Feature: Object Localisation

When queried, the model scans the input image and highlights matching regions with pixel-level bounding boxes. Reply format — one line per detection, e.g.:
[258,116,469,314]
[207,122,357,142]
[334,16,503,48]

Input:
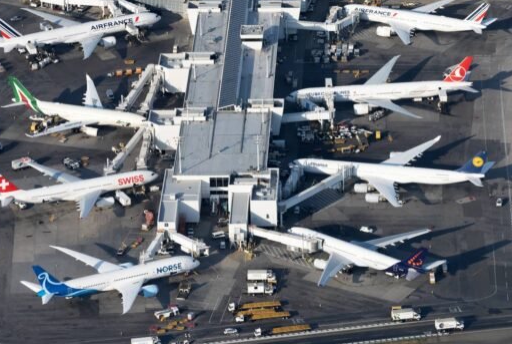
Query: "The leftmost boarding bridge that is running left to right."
[66,0,124,20]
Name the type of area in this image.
airport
